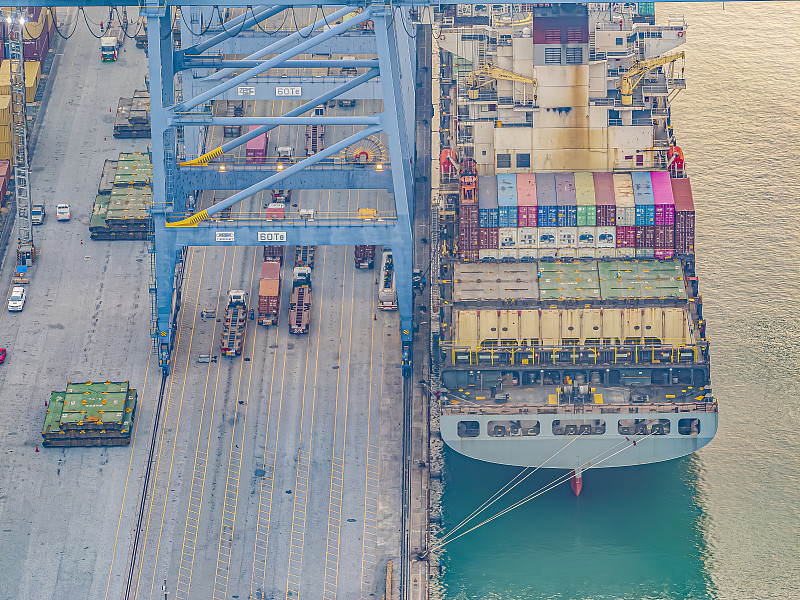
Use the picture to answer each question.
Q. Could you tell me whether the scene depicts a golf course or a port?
port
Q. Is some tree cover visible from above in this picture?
No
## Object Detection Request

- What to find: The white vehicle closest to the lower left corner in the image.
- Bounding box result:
[7,290,24,310]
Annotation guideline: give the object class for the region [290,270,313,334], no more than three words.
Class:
truck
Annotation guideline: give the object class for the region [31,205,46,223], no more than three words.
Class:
car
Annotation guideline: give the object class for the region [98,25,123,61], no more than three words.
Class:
truck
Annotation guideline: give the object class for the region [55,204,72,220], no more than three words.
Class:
car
